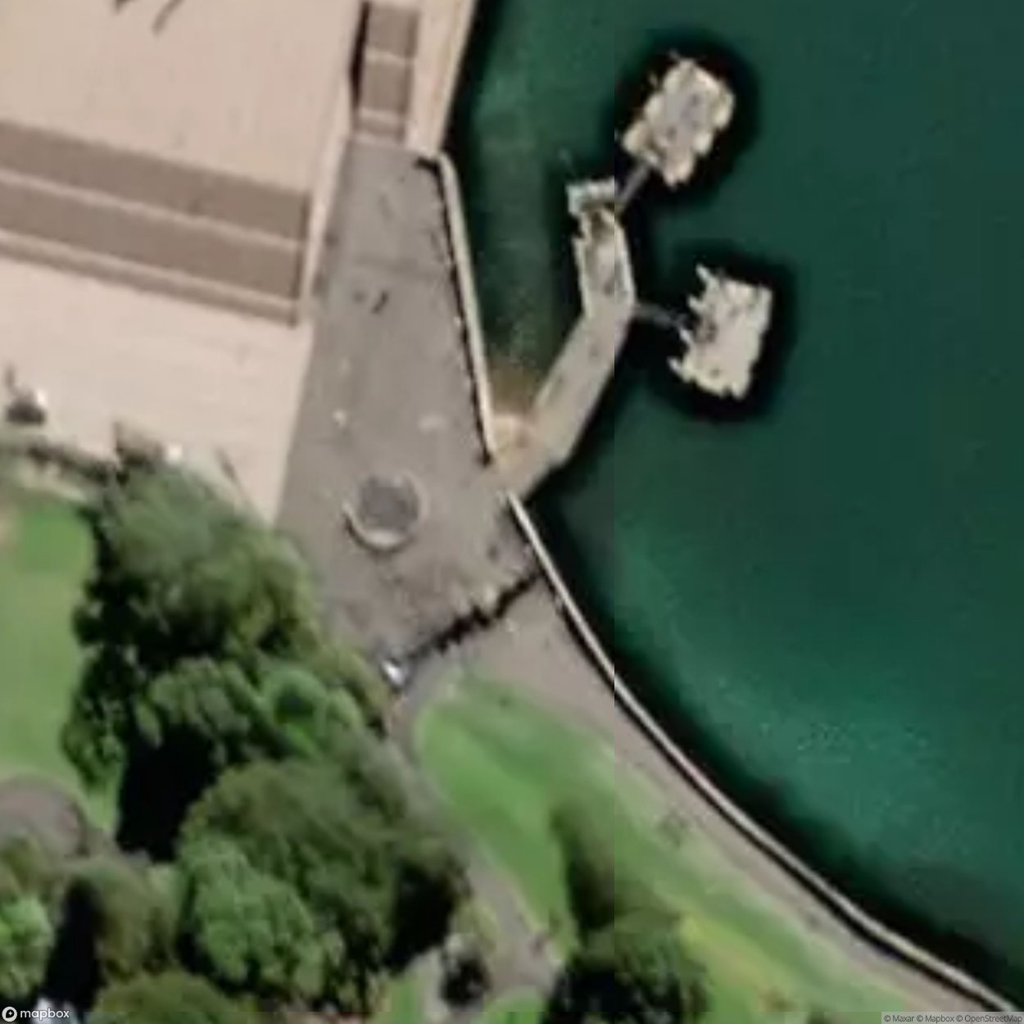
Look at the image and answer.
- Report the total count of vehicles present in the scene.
1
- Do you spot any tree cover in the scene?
Yes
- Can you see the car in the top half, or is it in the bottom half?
bottom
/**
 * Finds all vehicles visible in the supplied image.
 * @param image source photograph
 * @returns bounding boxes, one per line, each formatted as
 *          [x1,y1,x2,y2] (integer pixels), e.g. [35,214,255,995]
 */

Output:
[385,662,409,693]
